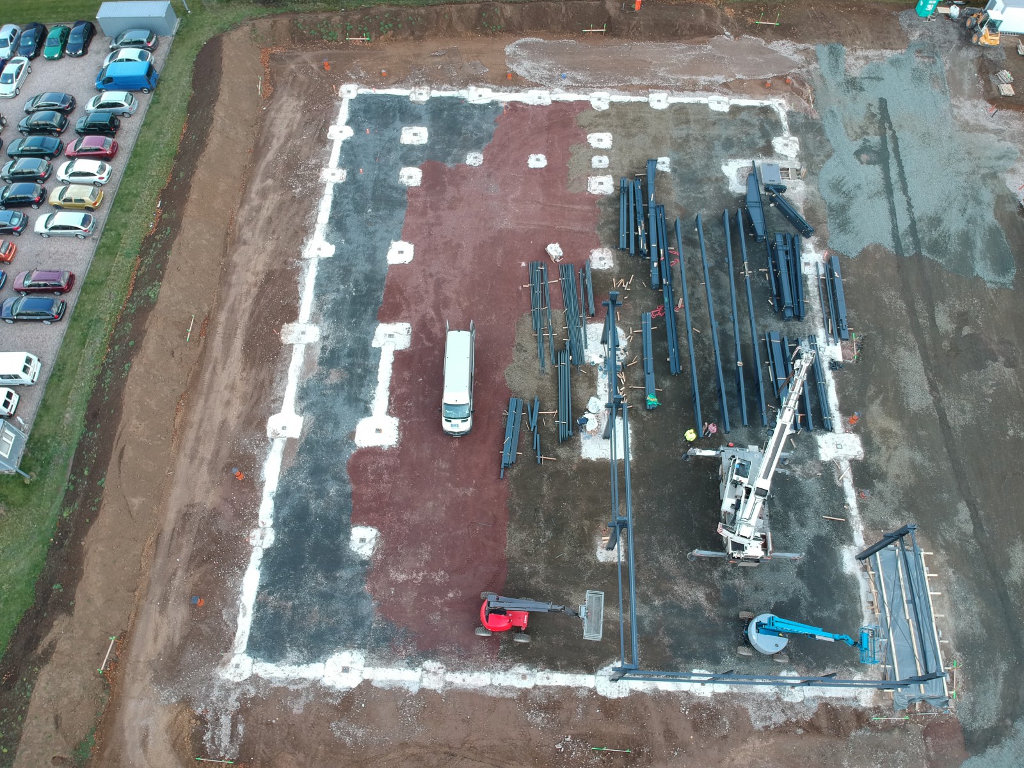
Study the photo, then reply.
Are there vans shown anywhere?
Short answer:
Yes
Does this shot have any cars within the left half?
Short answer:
Yes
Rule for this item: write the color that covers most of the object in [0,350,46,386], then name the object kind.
white van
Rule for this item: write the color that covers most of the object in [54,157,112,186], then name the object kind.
white car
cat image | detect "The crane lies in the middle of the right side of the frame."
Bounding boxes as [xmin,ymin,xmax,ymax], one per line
[681,344,821,577]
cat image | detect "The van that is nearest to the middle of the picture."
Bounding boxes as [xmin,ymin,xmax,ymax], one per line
[439,314,478,426]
